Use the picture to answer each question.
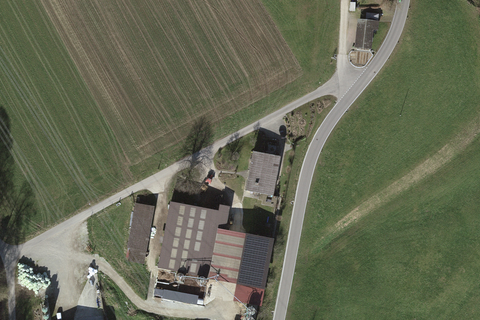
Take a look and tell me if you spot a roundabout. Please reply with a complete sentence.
No, no roundabout is visible in the scene.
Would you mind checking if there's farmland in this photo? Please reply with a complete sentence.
Yes, some farmland is visible.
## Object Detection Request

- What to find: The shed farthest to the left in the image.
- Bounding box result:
[129,204,156,264]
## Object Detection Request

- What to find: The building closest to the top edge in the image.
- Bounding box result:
[355,19,380,50]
